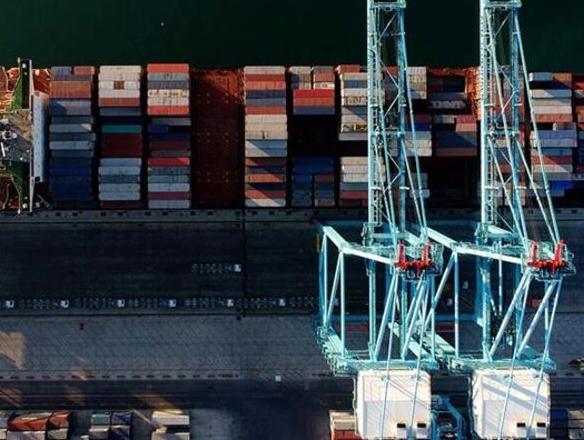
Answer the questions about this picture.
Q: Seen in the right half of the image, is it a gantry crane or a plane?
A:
gantry crane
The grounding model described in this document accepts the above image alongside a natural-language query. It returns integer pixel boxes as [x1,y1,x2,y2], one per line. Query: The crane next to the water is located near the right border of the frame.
[394,0,574,440]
